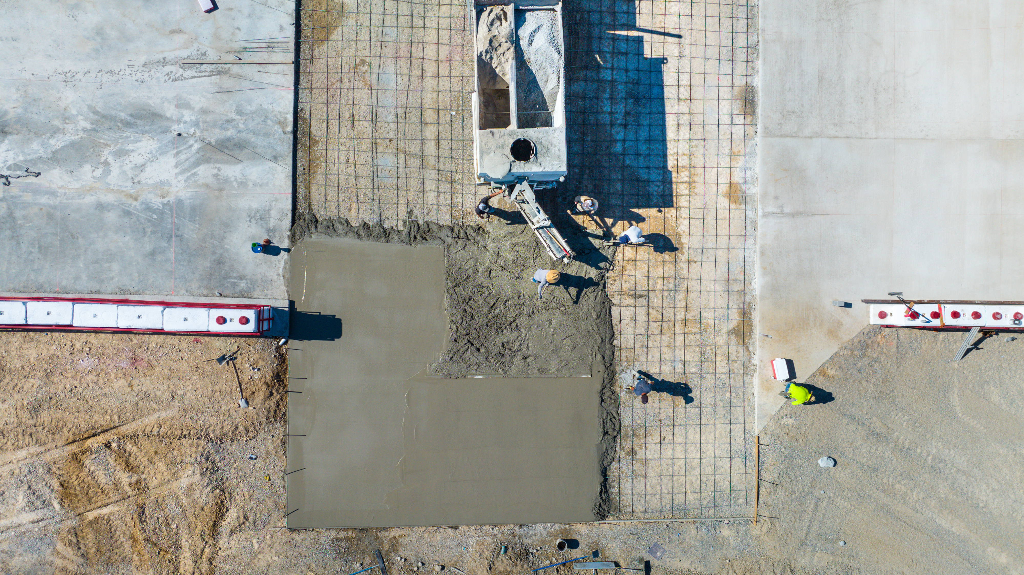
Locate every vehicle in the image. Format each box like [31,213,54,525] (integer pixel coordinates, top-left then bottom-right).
[469,0,573,264]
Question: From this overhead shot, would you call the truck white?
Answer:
Yes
